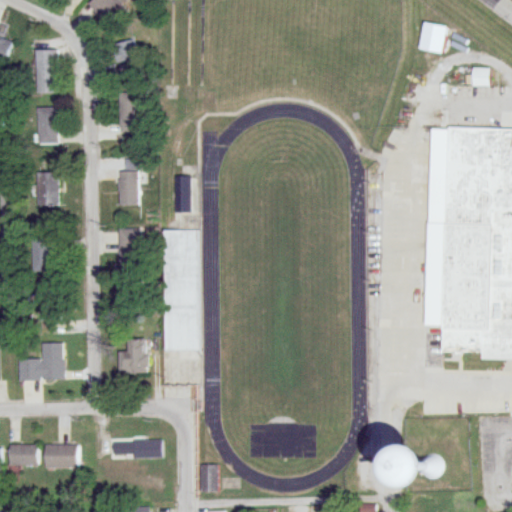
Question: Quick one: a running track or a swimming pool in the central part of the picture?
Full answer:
The one visible in the central part of the picture is a running track.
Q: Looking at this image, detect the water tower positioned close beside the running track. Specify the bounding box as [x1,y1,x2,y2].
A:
[380,448,447,494]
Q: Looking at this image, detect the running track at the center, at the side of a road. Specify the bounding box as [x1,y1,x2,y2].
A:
[204,104,366,492]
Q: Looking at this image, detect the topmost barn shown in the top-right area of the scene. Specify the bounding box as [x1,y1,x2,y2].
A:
[418,21,452,54]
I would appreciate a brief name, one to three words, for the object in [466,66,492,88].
shed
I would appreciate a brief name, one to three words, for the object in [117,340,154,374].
house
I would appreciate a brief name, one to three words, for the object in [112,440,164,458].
house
